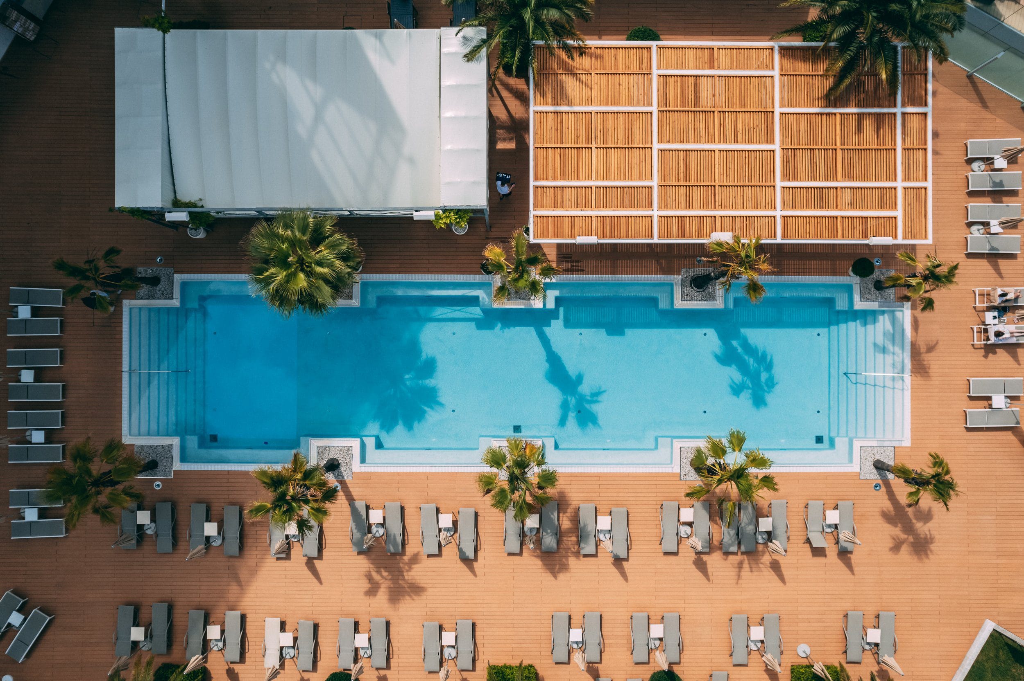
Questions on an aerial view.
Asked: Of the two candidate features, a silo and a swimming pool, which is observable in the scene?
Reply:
swimming pool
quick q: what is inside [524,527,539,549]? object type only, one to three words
umbrella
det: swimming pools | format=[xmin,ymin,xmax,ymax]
[130,281,902,465]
